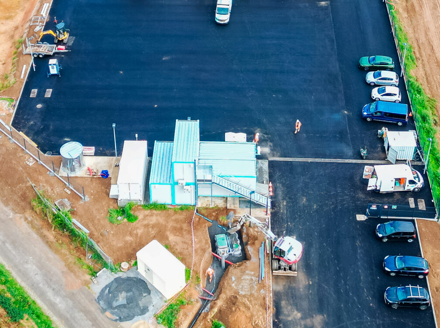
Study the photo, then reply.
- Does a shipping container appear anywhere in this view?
Yes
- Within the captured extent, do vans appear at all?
Yes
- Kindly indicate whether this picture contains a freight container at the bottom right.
No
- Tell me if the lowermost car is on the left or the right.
right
